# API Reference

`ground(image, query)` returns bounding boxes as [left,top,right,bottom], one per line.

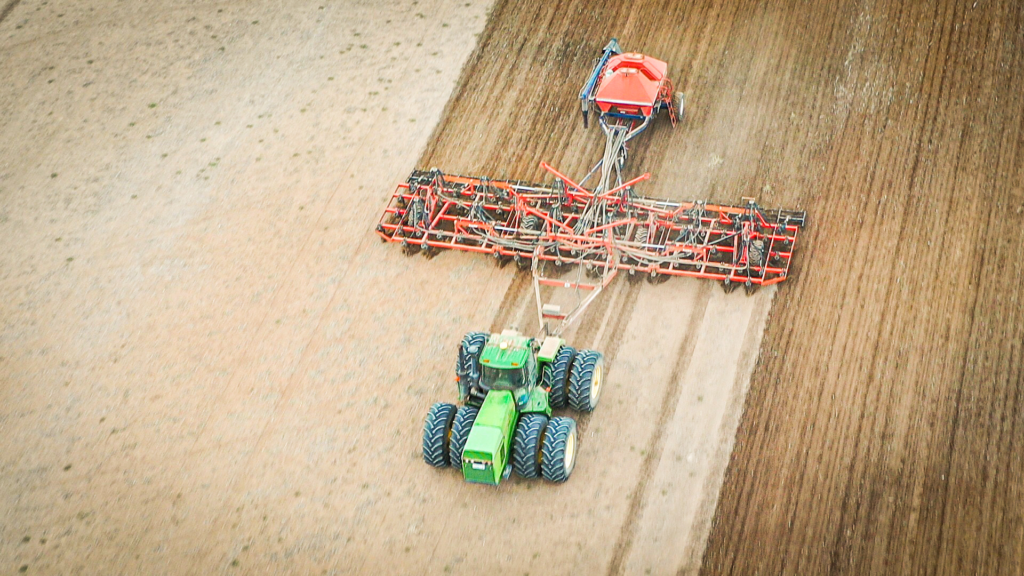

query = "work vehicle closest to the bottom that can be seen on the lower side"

[421,325,604,488]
